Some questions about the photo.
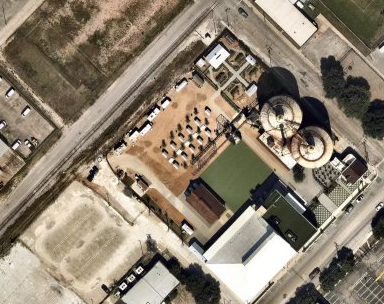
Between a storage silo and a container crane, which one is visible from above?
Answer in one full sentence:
The image shows a storage silo.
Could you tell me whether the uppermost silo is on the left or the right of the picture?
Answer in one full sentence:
It is on the right.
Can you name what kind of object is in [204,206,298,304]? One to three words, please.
building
